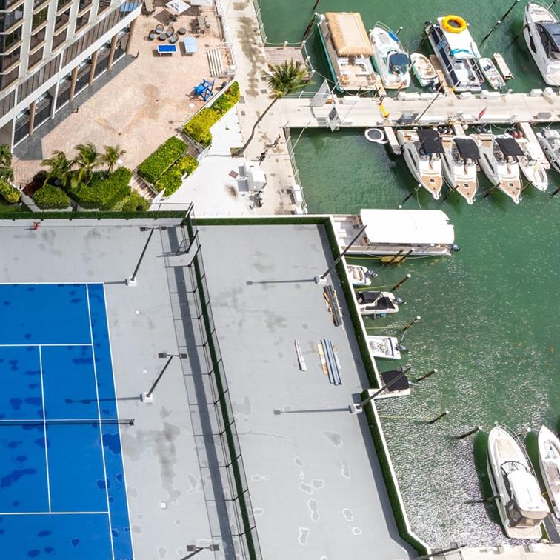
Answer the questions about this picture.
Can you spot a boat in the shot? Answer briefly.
Yes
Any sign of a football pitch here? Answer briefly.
No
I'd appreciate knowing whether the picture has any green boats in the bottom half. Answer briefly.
No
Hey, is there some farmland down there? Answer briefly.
No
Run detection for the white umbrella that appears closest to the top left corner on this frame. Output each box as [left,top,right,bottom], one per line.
[164,0,191,25]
